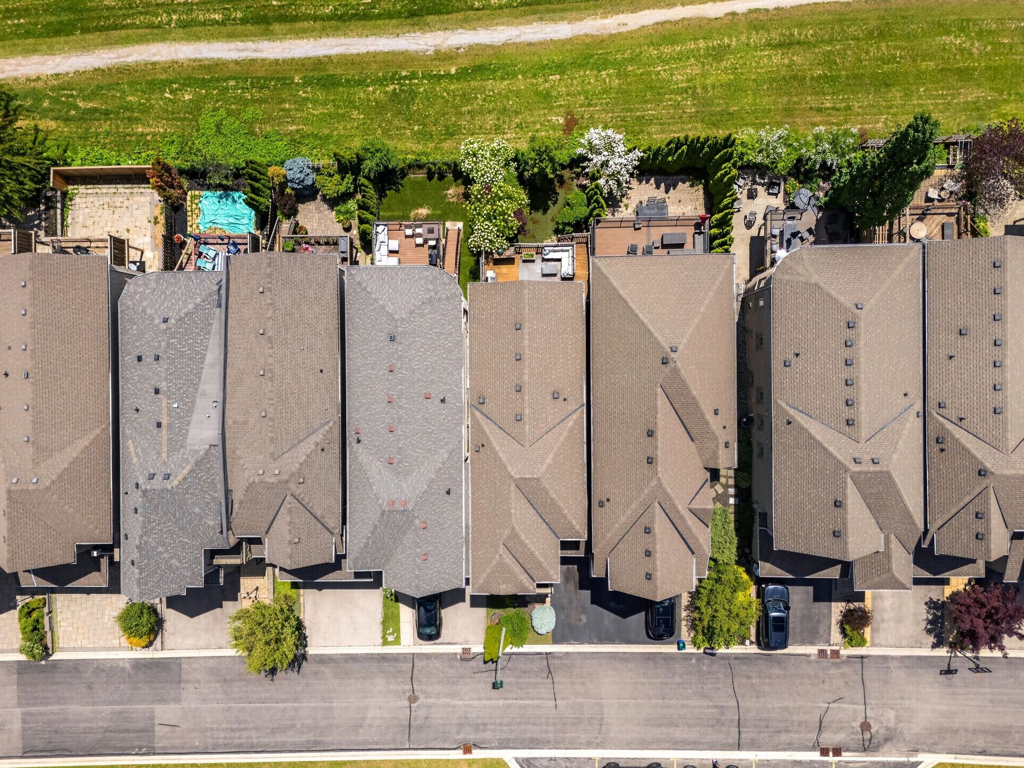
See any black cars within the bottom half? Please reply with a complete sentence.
Yes, I can see a black car within the bottom half.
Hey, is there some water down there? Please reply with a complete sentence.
No, the picture contains no water.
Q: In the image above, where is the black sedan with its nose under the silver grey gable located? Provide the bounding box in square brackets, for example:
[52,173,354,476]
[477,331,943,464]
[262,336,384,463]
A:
[414,593,444,641]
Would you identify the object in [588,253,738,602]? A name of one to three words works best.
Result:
house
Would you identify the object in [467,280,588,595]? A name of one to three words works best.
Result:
house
